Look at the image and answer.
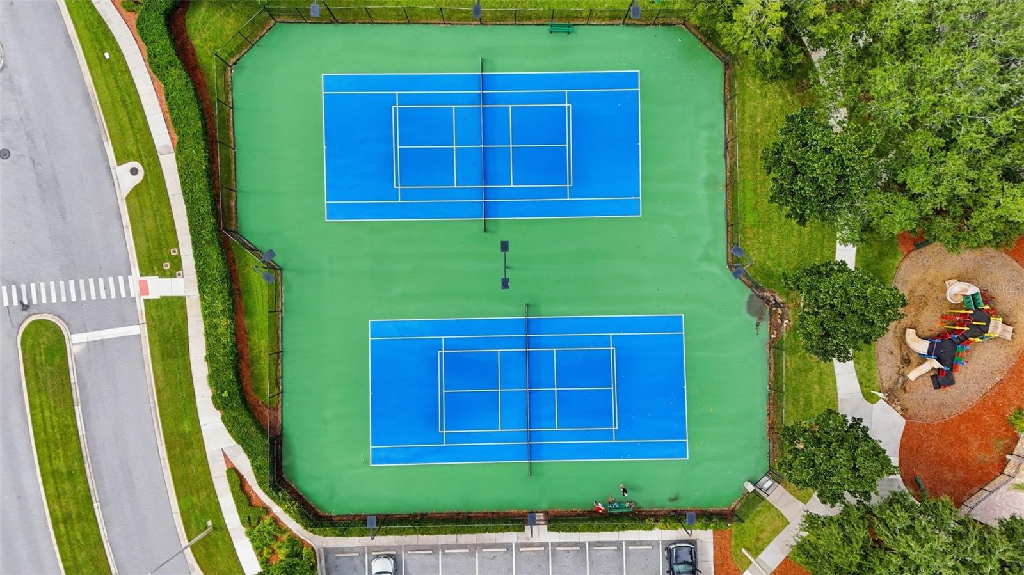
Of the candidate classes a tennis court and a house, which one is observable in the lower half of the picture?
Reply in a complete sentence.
The one visible in the lower half of the picture is a tennis court.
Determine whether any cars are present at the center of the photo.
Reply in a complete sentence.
No, looking at the center of the photo, there is no car.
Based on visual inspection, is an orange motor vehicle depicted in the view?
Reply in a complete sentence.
No, there isn't any orange motor vehicle down there.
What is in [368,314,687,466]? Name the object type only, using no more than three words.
tennis court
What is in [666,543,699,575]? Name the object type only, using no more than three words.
car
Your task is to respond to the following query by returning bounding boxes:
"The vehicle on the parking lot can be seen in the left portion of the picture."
[370,555,396,575]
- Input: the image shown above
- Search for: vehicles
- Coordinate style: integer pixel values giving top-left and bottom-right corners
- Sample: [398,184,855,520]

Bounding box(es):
[370,555,396,575]
[666,543,699,575]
